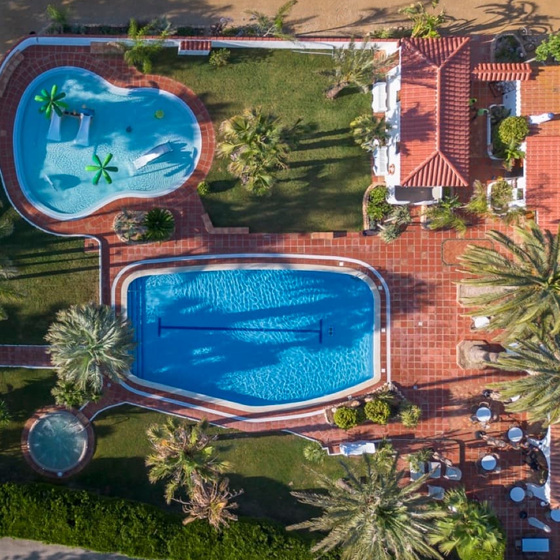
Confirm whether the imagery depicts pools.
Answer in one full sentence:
Yes, looking at the shot, I can spot a pool.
